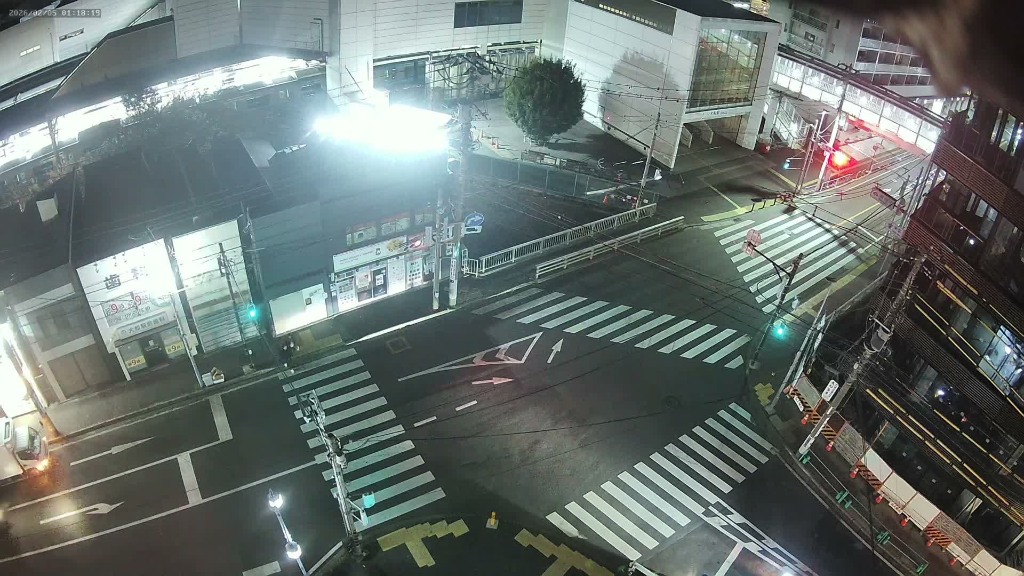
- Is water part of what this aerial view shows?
No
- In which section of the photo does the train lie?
top left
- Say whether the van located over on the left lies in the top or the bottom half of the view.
bottom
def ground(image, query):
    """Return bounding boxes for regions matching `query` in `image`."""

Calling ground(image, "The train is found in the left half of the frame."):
[0,67,317,188]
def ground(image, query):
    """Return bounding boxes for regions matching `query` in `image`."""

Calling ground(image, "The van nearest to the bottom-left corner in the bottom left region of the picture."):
[0,428,48,492]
